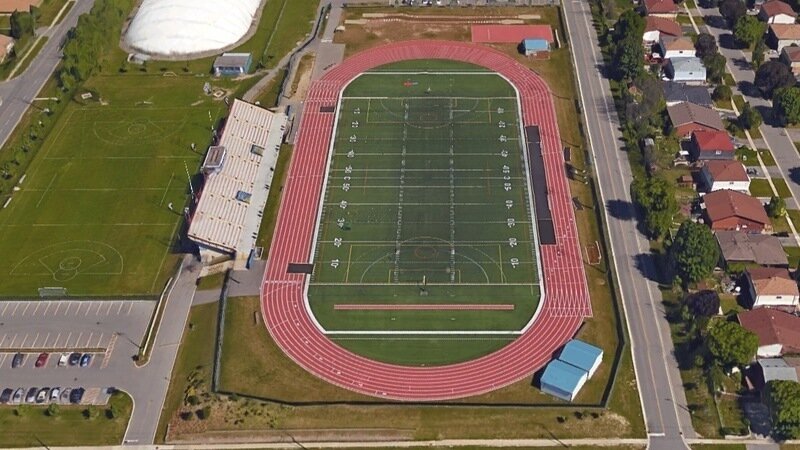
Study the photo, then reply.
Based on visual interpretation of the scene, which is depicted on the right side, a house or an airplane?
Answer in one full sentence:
What appears on the right side is a house.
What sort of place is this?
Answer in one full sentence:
What you see here is a sports ground.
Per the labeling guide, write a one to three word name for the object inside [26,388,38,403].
vehicle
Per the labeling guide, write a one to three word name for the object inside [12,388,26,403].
vehicle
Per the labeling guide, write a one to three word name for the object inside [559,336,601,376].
shed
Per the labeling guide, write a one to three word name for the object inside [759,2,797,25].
house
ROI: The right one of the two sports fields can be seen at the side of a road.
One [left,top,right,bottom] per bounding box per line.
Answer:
[303,58,545,367]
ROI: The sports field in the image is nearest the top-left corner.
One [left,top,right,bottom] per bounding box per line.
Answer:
[0,106,212,295]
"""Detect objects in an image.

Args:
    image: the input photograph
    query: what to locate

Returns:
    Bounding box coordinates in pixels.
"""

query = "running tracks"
[263,40,590,399]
